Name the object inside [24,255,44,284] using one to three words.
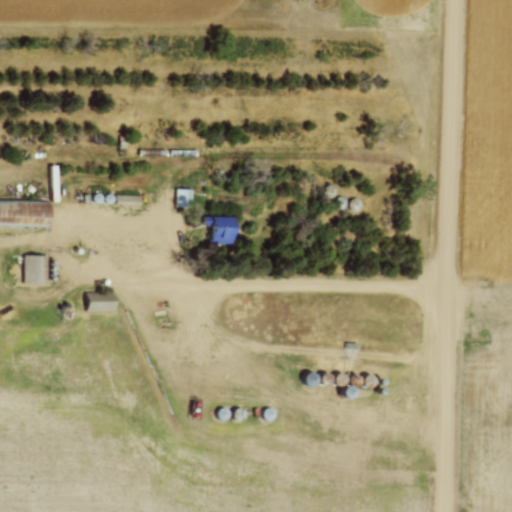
building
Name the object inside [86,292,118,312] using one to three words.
barn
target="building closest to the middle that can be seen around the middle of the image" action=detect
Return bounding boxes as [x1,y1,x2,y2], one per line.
[204,217,237,244]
